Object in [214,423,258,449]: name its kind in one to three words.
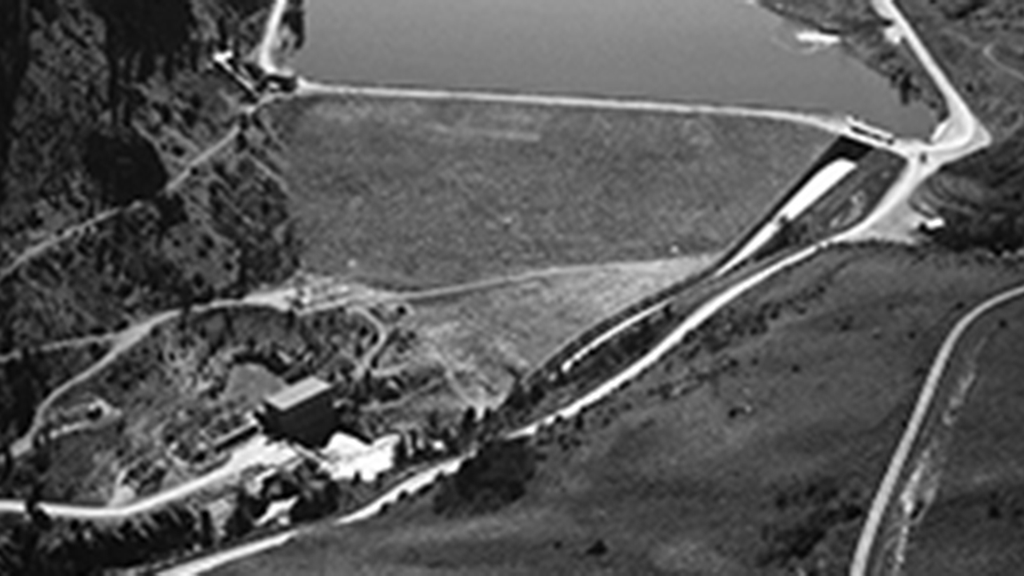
shed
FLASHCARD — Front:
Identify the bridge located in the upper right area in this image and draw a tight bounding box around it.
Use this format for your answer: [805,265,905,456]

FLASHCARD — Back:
[834,126,898,155]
